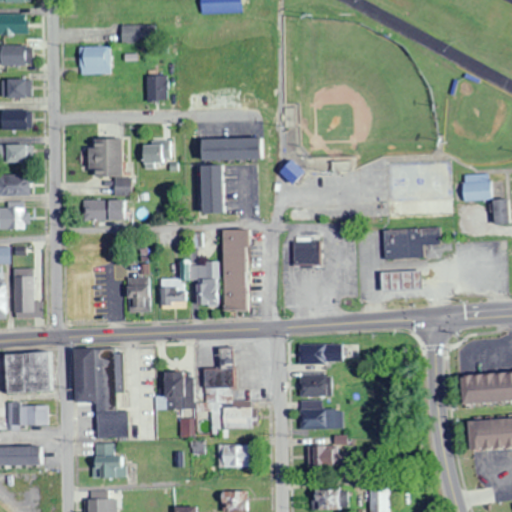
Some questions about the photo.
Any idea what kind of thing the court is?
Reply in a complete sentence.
What you see as the court is a basketball court.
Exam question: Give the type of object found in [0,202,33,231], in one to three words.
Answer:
house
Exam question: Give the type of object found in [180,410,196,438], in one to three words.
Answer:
shed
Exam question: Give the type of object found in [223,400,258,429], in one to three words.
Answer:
building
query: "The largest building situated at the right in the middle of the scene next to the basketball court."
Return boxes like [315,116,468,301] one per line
[384,228,441,260]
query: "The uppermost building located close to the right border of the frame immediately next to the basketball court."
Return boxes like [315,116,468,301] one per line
[462,174,494,202]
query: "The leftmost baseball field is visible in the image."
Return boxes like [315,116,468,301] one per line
[284,16,438,162]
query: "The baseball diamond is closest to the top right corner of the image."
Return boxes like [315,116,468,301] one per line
[444,75,512,168]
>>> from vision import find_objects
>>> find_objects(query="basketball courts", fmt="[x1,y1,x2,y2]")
[389,162,454,218]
